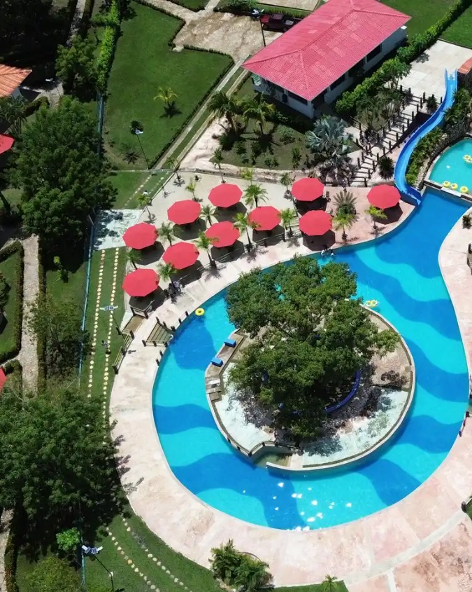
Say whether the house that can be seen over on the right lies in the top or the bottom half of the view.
top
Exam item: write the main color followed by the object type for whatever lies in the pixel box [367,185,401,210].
red umbrella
